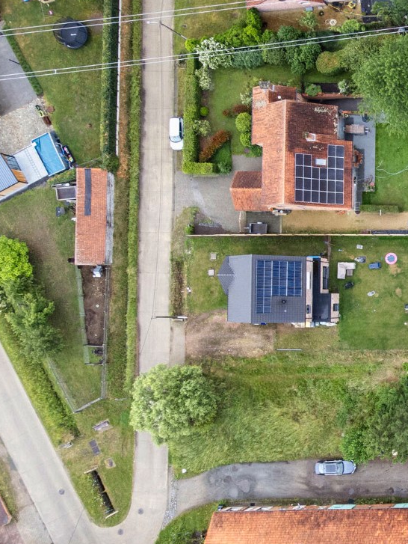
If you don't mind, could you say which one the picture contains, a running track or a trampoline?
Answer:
trampoline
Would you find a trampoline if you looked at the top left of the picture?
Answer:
Yes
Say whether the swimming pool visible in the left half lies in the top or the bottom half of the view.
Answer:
top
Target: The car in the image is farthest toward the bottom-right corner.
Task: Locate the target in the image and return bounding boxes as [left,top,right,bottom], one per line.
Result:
[317,459,355,476]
